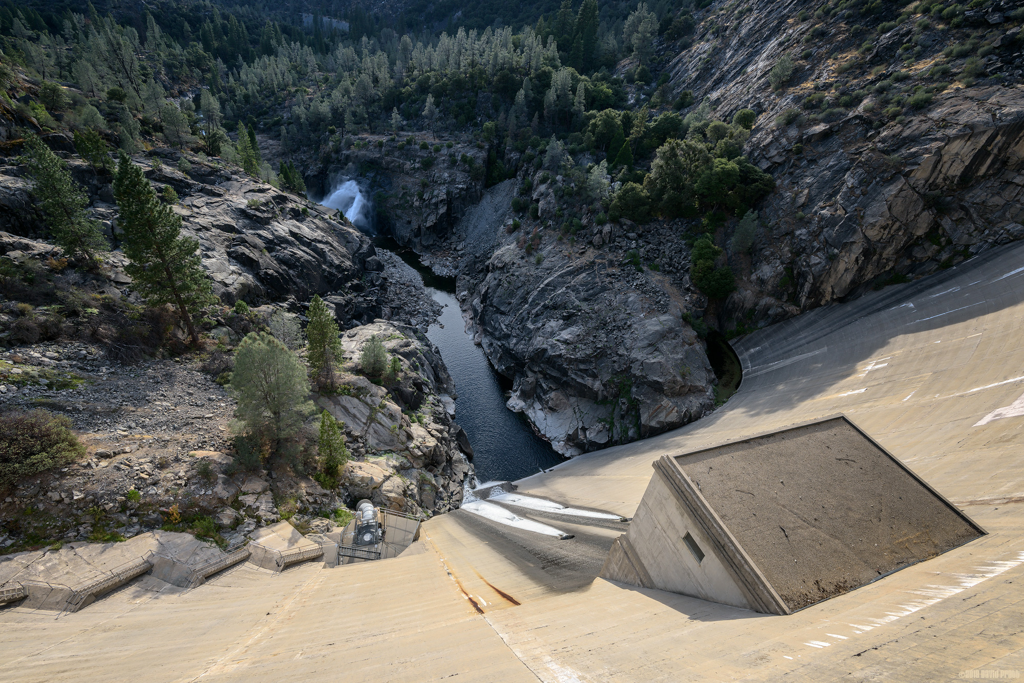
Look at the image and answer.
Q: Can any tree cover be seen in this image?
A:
Yes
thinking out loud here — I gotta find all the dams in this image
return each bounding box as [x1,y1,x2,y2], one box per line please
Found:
[0,236,1024,683]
